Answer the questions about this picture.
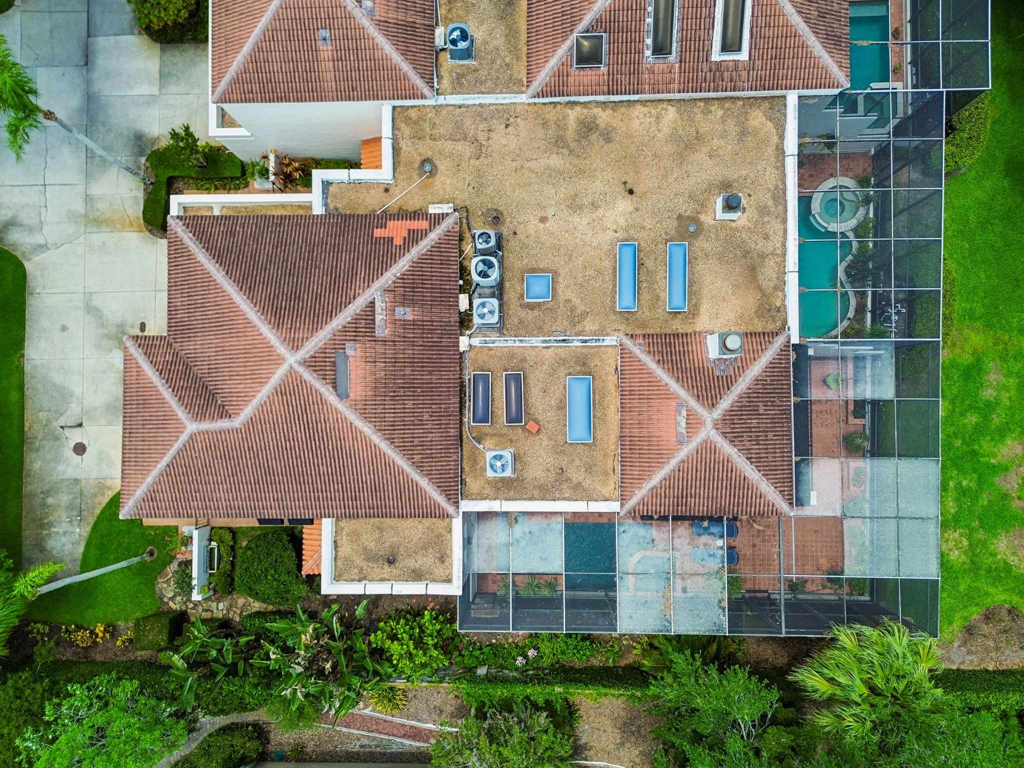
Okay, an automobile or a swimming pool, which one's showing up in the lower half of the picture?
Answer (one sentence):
There is a swimming pool in the lower half of the picture.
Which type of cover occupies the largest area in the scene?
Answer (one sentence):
What you mostly see from above here is buildings.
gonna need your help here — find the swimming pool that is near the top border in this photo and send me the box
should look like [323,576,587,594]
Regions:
[832,2,902,131]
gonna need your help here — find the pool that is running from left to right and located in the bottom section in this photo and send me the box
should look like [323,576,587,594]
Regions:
[496,512,681,598]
